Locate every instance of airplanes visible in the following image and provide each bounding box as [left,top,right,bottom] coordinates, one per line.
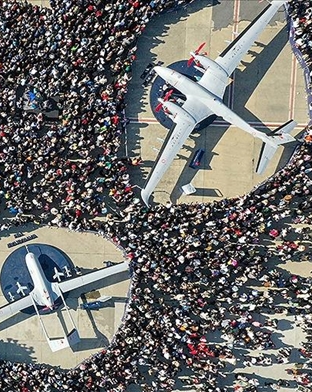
[144,0,299,208]
[0,247,128,351]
